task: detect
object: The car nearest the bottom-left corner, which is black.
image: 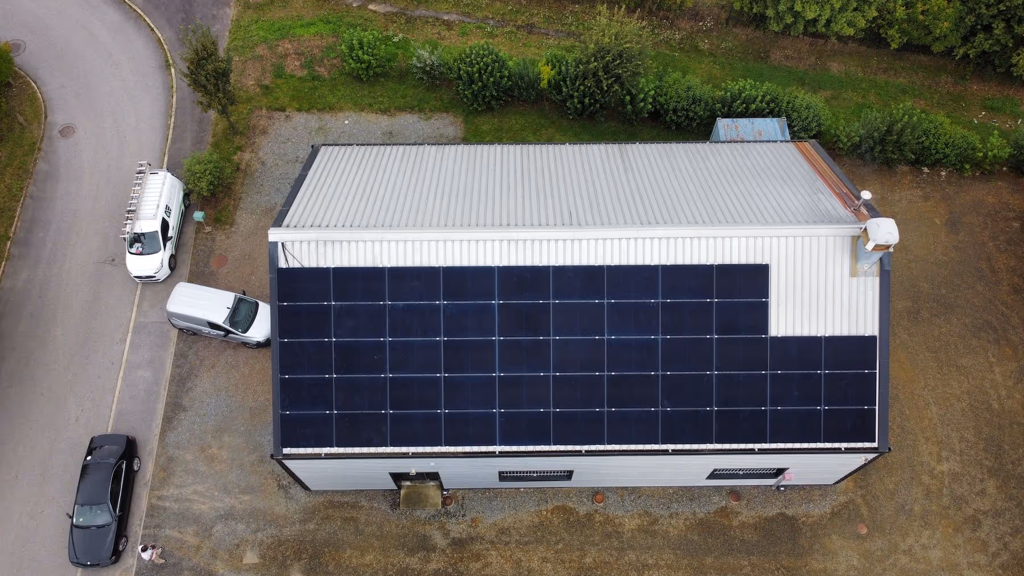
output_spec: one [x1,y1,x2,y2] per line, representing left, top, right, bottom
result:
[61,436,142,572]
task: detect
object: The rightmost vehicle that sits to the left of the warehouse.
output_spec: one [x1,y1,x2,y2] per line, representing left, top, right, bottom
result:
[162,279,270,350]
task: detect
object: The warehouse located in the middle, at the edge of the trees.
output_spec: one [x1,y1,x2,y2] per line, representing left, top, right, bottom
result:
[267,139,891,491]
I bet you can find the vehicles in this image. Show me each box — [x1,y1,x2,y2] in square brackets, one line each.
[162,279,270,350]
[118,165,190,283]
[61,436,142,572]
